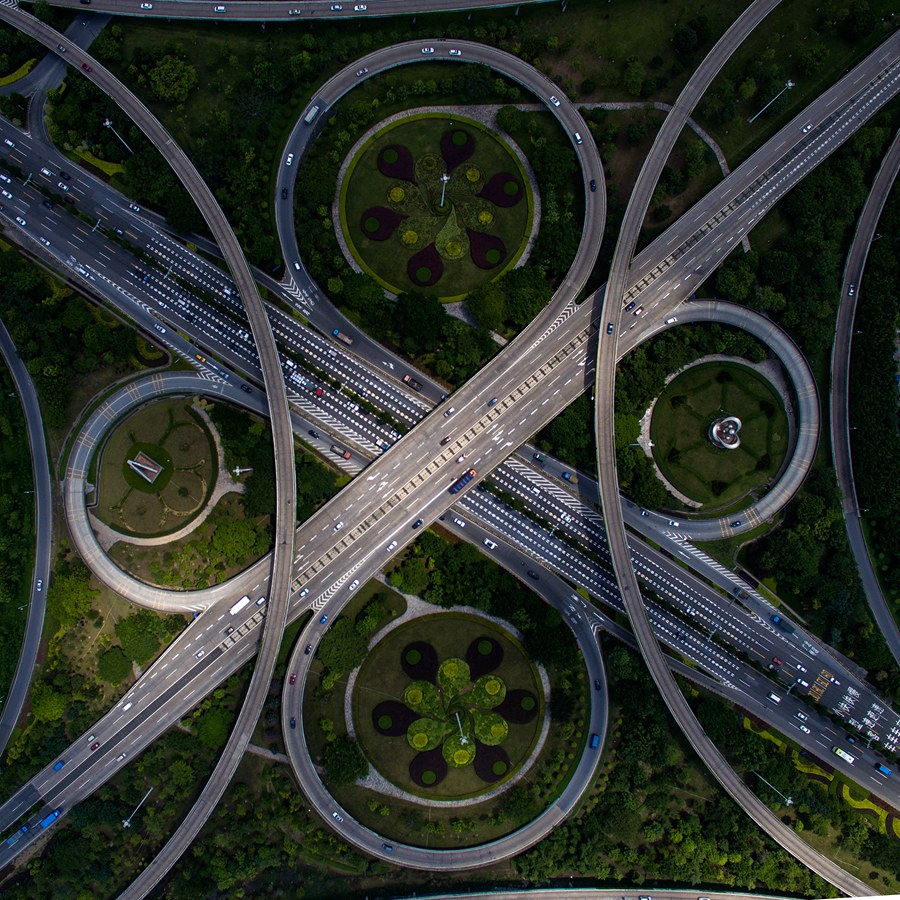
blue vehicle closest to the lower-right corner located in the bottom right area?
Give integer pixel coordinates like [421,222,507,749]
[875,763,895,778]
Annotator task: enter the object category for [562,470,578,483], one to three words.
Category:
vehicle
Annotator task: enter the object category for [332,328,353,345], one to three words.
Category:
vehicle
